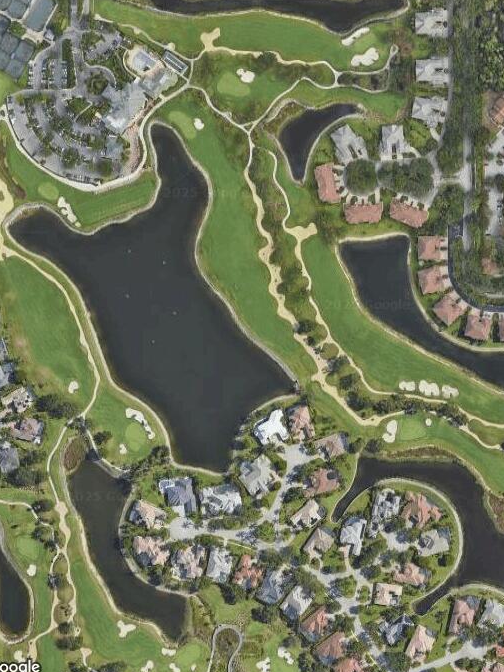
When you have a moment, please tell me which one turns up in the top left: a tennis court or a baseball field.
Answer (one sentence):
It is a tennis court that can be seen in the top left.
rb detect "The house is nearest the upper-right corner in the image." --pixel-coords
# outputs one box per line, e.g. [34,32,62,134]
[414,9,448,36]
